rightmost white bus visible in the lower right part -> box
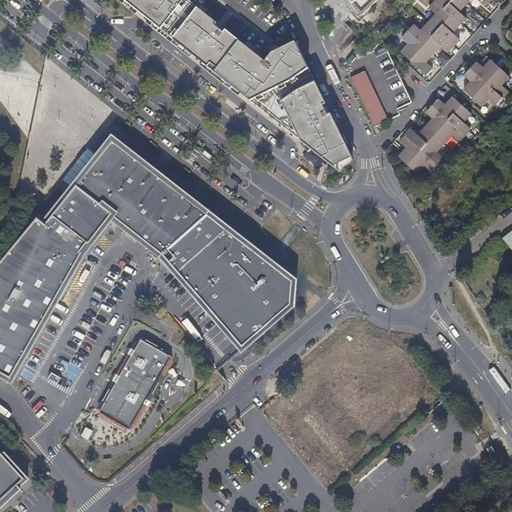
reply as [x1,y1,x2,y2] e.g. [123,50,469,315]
[488,364,512,396]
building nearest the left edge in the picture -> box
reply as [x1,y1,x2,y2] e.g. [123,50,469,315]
[0,445,30,510]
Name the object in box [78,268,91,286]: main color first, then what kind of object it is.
white vehicle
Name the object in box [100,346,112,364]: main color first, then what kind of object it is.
white vehicle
